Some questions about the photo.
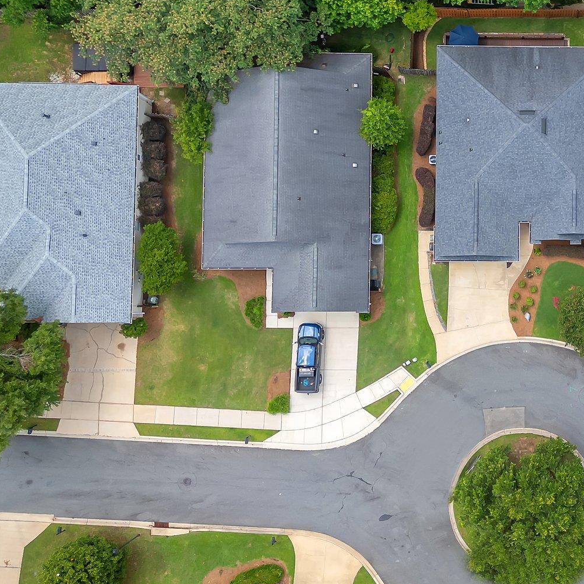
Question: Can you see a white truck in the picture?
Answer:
No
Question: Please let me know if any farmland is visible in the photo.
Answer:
No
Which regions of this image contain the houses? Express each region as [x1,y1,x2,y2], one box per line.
[0,82,155,324]
[432,45,584,262]
[201,53,378,313]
